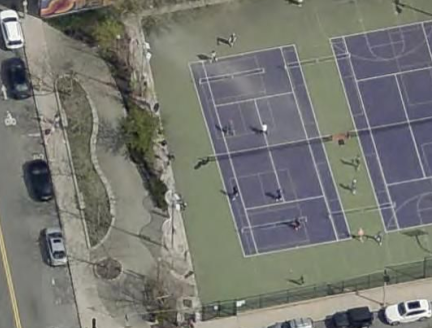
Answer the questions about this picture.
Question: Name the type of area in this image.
sports ground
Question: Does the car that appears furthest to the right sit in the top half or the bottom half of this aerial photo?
bottom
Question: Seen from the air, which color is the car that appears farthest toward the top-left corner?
white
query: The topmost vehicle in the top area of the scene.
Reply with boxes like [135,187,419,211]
[1,12,25,52]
